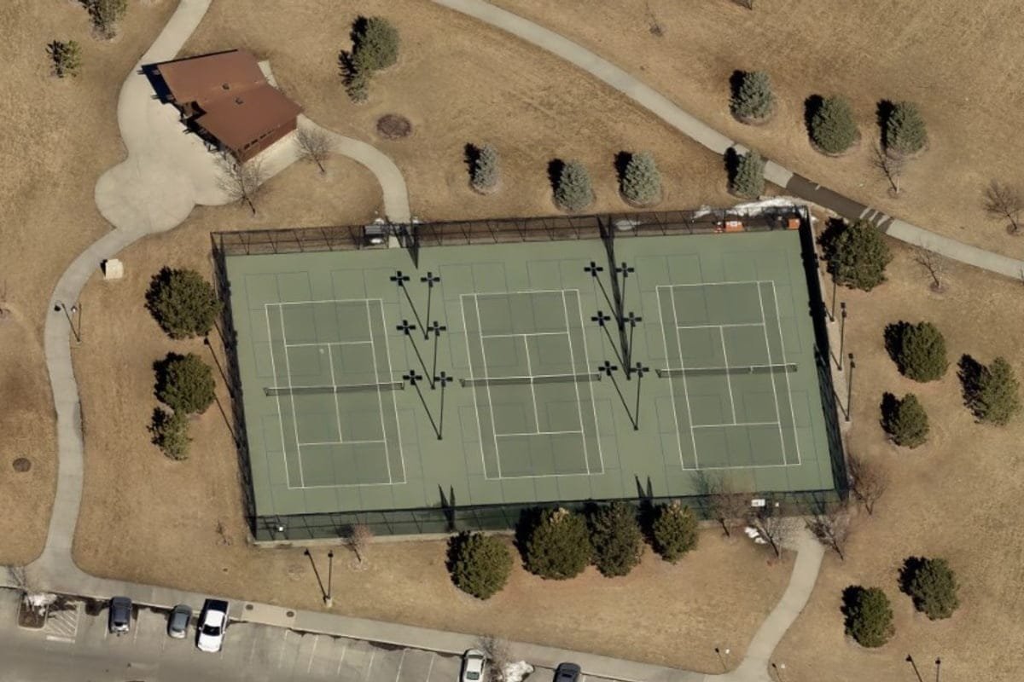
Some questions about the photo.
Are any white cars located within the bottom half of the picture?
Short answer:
Yes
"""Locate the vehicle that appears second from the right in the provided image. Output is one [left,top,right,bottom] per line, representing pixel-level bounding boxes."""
[461,648,486,682]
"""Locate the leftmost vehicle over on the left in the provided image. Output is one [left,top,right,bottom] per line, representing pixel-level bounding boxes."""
[106,594,133,635]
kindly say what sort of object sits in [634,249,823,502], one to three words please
tennis court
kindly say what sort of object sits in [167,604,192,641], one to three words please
car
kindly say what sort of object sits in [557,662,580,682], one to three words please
car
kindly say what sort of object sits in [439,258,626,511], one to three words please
tennis court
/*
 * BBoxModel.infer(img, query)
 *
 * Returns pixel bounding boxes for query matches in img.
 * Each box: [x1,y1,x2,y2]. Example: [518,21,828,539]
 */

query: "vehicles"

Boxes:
[557,662,580,682]
[198,599,229,655]
[167,604,192,641]
[106,594,133,635]
[461,648,486,682]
